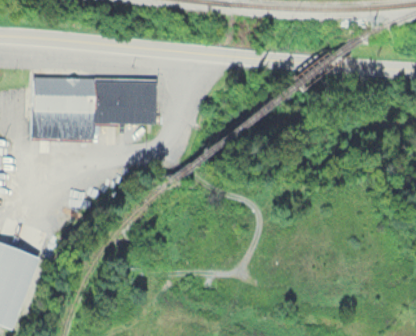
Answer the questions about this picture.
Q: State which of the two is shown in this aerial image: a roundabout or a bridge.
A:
bridge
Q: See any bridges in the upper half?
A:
Yes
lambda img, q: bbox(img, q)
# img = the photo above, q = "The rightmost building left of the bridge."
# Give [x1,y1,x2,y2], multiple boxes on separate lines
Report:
[94,78,160,126]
